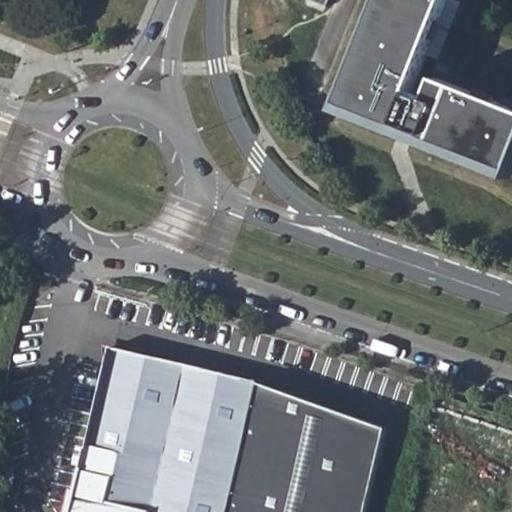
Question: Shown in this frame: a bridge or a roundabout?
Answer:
roundabout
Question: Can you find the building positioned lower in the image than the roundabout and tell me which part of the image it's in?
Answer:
bottom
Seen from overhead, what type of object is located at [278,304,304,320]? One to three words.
vehicle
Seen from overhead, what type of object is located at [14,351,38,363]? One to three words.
vehicle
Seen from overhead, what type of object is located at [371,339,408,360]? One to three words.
truck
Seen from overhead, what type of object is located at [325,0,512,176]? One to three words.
building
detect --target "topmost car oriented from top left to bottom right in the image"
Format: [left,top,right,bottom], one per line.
[192,156,212,178]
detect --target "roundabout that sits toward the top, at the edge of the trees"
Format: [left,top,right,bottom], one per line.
[32,94,202,266]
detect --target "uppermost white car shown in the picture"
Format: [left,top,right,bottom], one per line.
[116,61,134,82]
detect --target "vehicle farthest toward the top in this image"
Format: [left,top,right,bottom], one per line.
[145,19,160,40]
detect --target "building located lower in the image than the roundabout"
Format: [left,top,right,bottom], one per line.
[64,346,382,512]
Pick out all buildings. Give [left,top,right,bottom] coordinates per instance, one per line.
[64,346,382,512]
[305,0,326,11]
[325,0,512,176]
